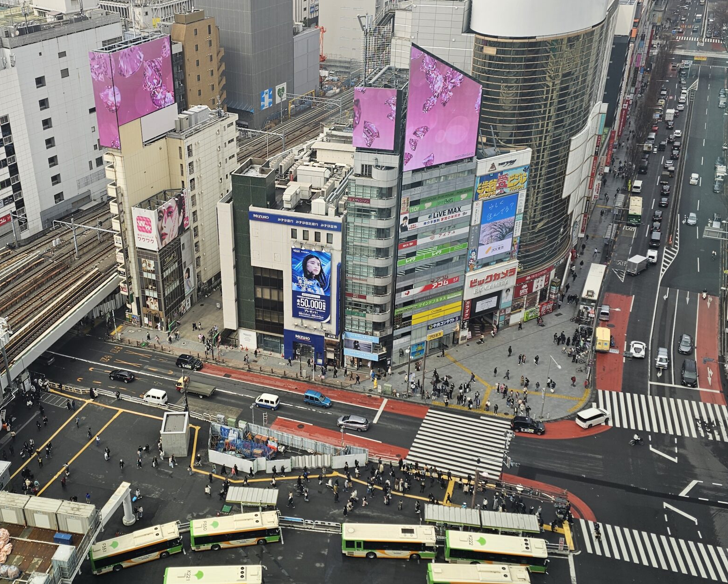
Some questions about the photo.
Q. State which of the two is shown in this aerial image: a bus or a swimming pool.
bus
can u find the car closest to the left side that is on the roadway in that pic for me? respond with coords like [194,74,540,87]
[37,351,61,366]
